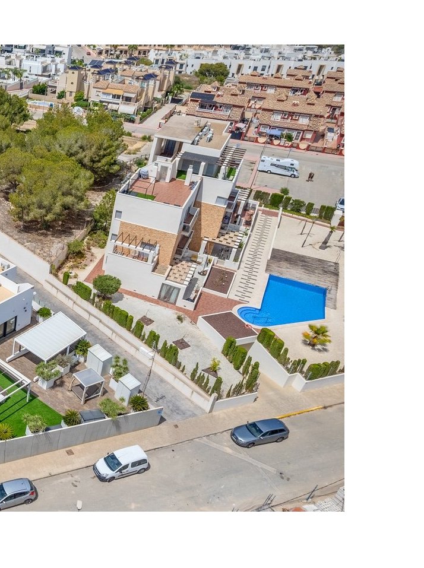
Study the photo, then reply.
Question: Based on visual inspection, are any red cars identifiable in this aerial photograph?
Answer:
No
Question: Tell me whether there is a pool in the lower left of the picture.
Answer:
No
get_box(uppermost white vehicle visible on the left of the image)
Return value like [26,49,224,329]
[95,443,154,480]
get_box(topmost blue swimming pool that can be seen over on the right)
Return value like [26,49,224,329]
[237,274,327,326]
